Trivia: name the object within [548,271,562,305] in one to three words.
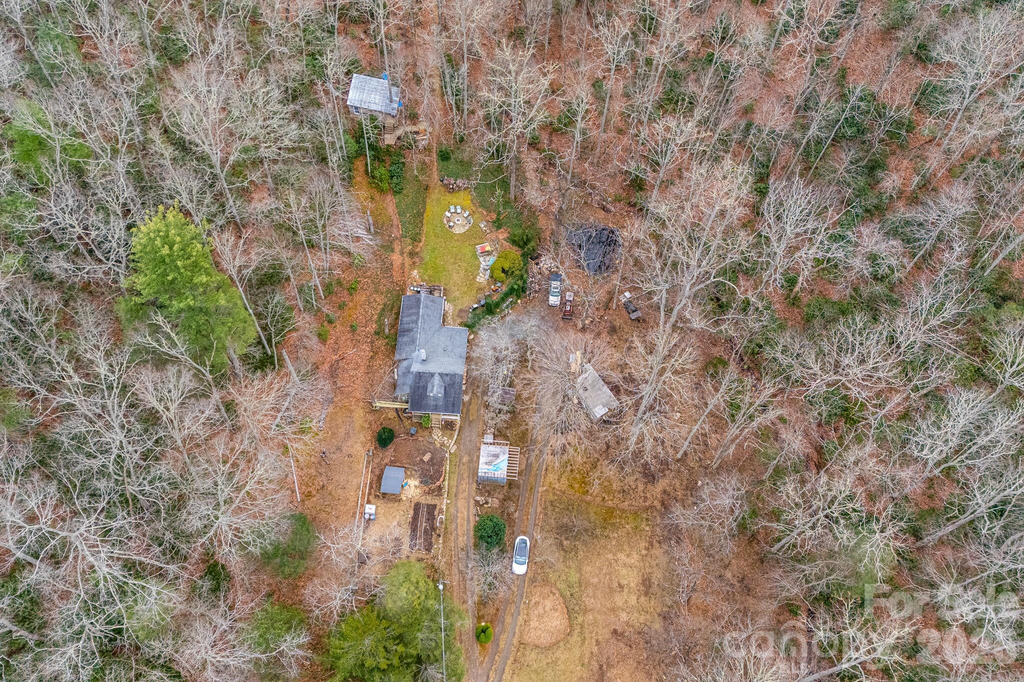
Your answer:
vehicle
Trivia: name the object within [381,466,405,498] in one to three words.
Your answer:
shed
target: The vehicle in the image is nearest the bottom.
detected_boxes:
[512,535,530,574]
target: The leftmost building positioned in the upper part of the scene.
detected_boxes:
[347,73,400,124]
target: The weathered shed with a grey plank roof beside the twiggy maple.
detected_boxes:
[576,368,619,424]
